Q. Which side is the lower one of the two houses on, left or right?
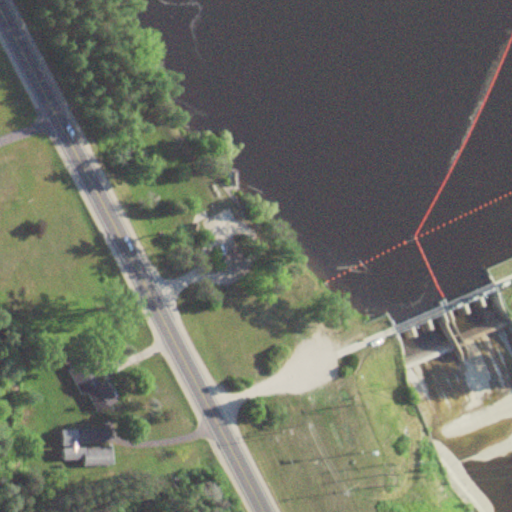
left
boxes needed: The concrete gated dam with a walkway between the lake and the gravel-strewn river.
[362,256,512,436]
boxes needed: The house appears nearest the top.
[70,366,120,414]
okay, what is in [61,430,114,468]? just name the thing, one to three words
house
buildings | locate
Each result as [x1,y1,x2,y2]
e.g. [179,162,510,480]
[61,430,114,468]
[70,366,120,414]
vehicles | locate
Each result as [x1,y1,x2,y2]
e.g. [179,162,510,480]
[66,126,74,136]
[220,242,225,252]
[502,280,512,288]
[371,338,384,347]
[126,239,134,250]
